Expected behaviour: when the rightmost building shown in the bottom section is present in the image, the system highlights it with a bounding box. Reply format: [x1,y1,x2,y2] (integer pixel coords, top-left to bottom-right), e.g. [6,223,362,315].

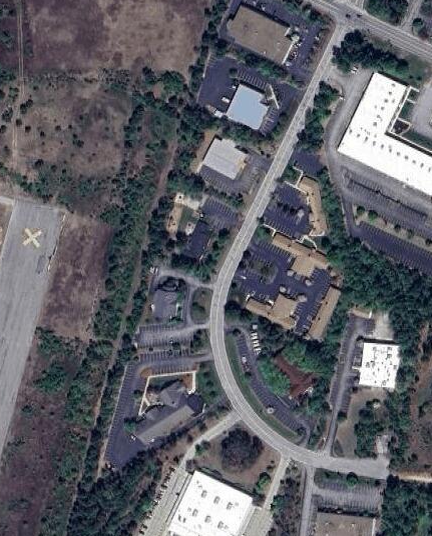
[359,343,400,389]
